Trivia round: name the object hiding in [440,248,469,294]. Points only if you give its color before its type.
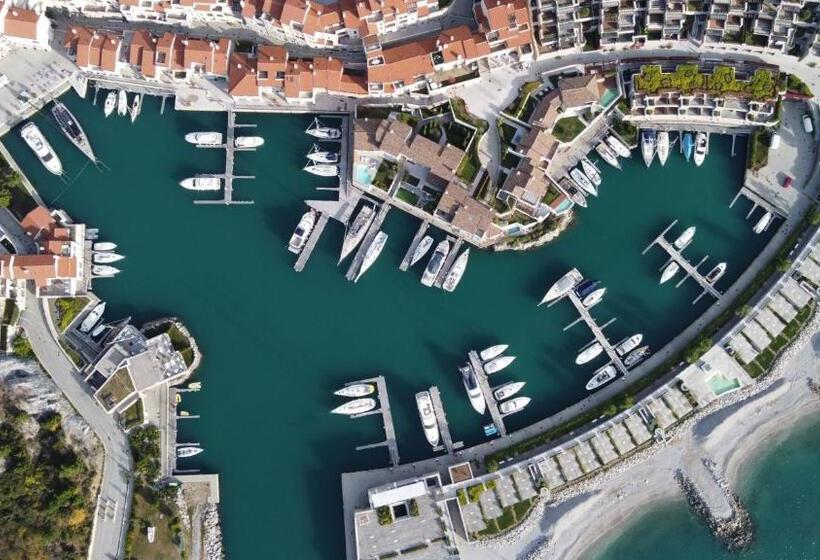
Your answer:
white boat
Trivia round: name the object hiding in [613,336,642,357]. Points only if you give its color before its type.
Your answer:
white boat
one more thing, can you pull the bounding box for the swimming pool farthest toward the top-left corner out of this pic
[353,151,384,187]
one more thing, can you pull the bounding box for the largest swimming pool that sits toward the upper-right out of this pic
[597,74,620,107]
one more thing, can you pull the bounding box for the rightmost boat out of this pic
[752,213,771,236]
